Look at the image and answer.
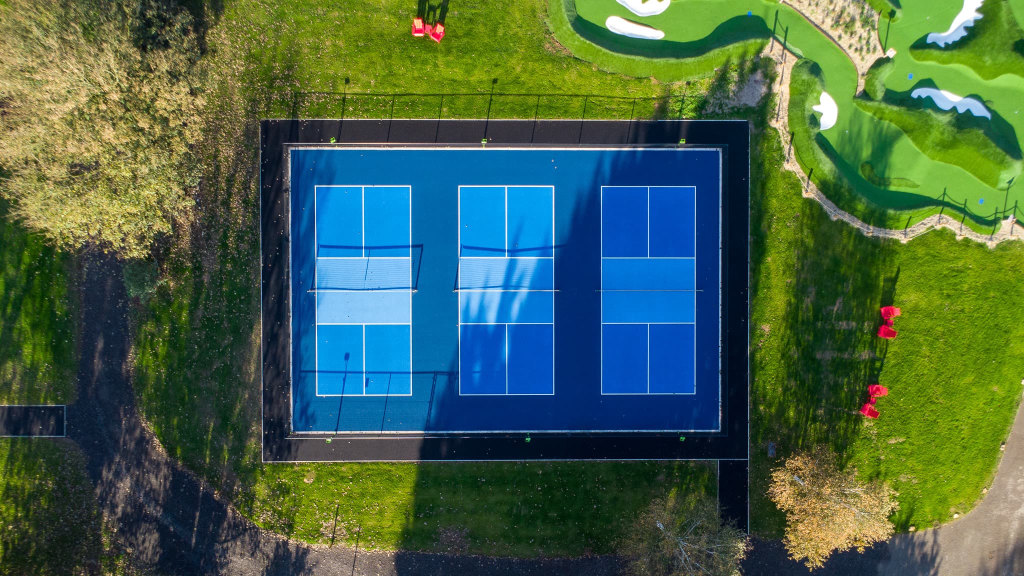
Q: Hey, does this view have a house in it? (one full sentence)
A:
No, I find no house anywhere in the image.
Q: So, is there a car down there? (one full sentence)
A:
No, the photo shows no car.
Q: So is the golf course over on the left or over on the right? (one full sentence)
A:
The golf course is on the right side of the image.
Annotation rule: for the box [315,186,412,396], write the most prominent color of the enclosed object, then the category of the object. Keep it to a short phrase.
blue sports court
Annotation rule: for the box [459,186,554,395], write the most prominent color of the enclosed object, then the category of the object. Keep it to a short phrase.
blue sports court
